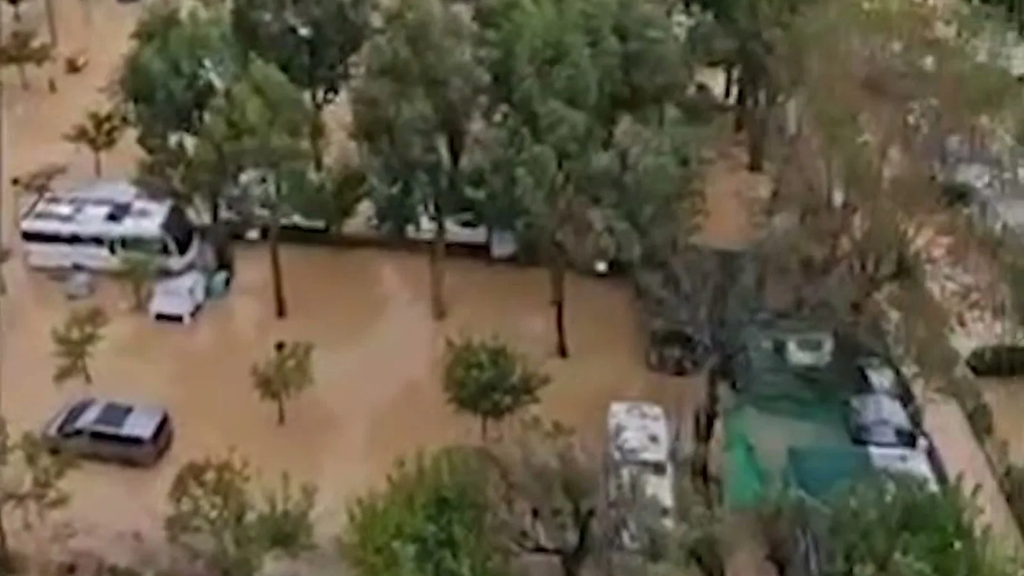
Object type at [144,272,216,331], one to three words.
van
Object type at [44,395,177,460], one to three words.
car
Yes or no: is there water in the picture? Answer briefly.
Yes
